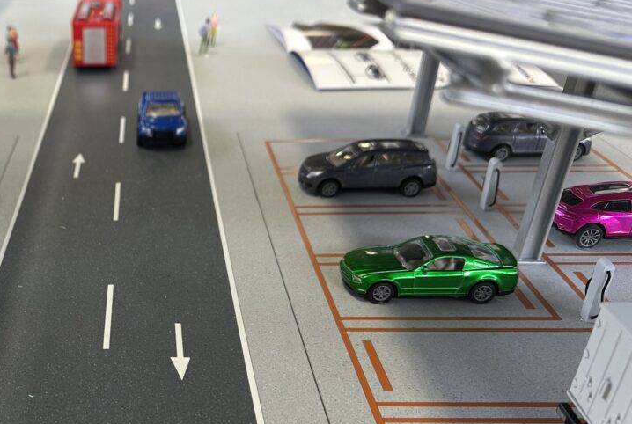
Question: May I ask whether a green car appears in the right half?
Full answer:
Yes, I can see a green car in the right half.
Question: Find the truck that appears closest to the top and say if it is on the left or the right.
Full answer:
You can find the truck that appears closest to the top on the left side of the picture.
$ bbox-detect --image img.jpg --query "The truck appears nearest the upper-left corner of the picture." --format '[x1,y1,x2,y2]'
[73,0,121,65]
